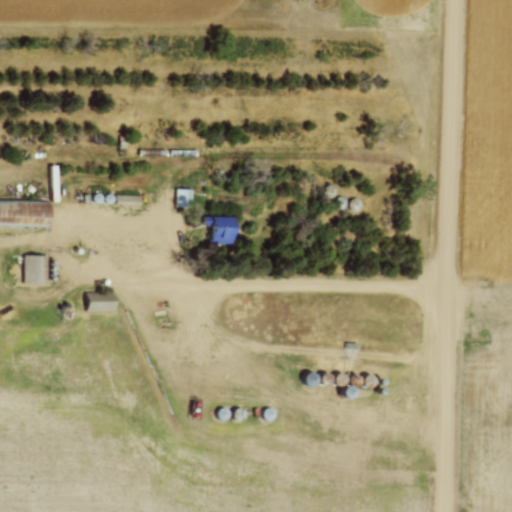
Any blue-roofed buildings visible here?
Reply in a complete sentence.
Yes, there's a blue-roofed building down there.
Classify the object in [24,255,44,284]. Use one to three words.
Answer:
building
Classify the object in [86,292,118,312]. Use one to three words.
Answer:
barn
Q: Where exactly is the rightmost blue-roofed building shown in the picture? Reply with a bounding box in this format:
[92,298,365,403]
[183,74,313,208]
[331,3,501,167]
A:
[204,217,237,244]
